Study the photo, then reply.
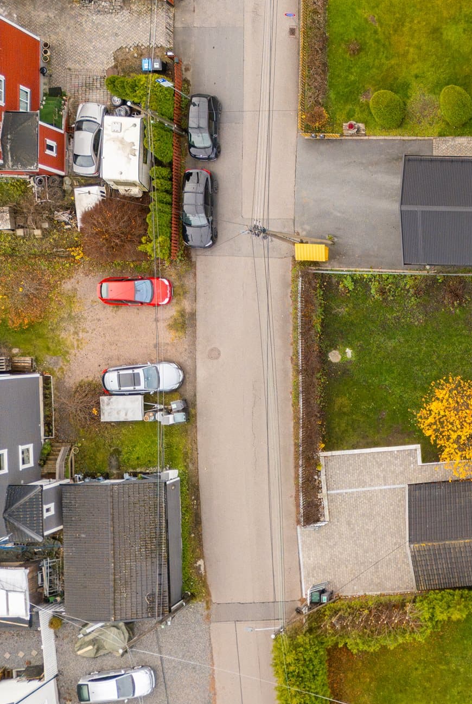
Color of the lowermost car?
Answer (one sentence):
From above, the lowermost car appears white.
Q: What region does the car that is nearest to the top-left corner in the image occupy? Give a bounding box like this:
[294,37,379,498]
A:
[68,103,110,179]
